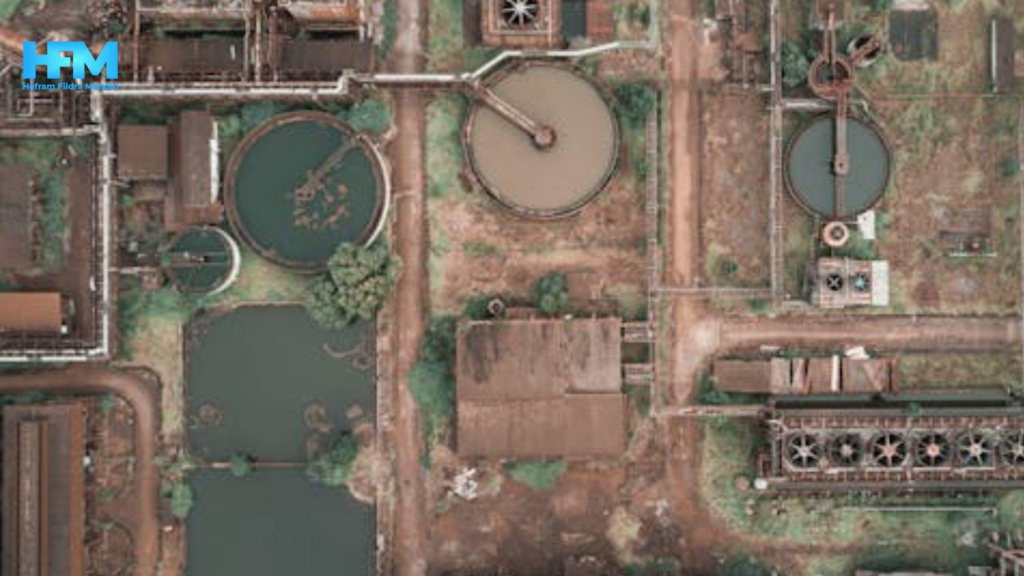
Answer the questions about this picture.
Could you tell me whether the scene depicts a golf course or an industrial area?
industrial area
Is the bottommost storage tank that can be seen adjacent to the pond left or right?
left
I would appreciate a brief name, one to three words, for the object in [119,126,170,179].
shed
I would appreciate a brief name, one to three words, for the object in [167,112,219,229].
shed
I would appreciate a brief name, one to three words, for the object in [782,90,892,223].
storage tank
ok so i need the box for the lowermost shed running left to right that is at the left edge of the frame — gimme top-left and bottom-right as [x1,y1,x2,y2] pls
[0,293,68,326]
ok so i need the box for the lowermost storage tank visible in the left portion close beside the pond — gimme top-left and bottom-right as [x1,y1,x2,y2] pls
[169,226,244,294]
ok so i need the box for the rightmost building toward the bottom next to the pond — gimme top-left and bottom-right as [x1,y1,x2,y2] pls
[456,319,627,455]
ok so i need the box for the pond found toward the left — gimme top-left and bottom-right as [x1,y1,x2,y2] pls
[182,304,378,576]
